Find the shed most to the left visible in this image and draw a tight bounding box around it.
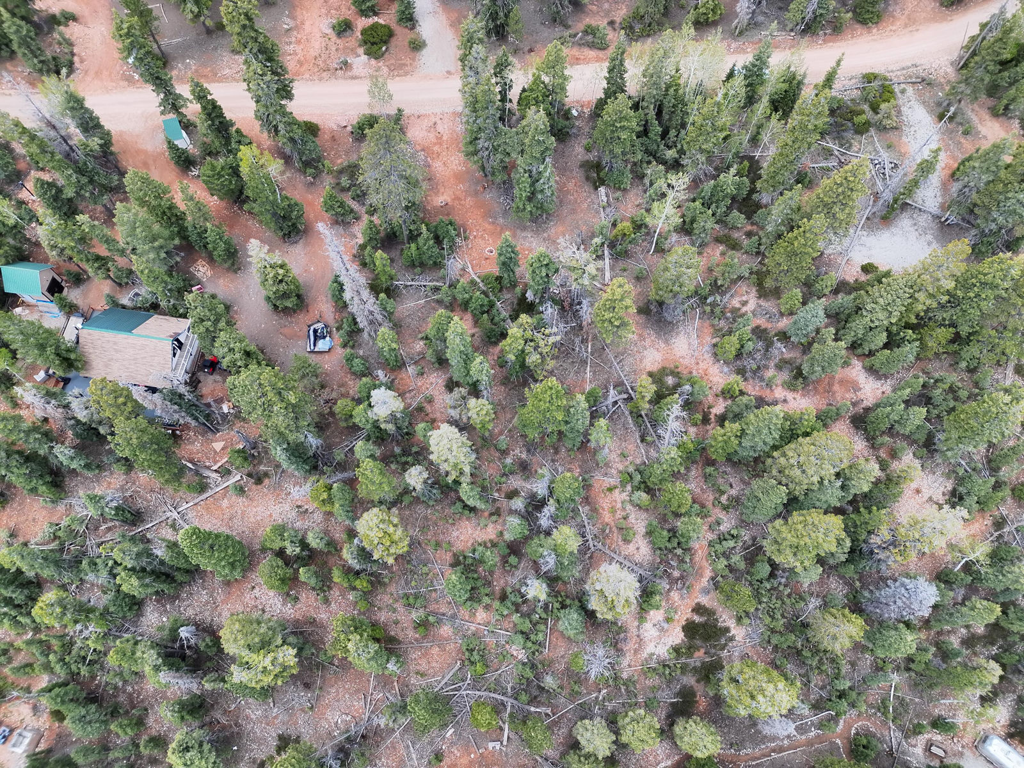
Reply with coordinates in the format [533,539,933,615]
[0,258,66,302]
